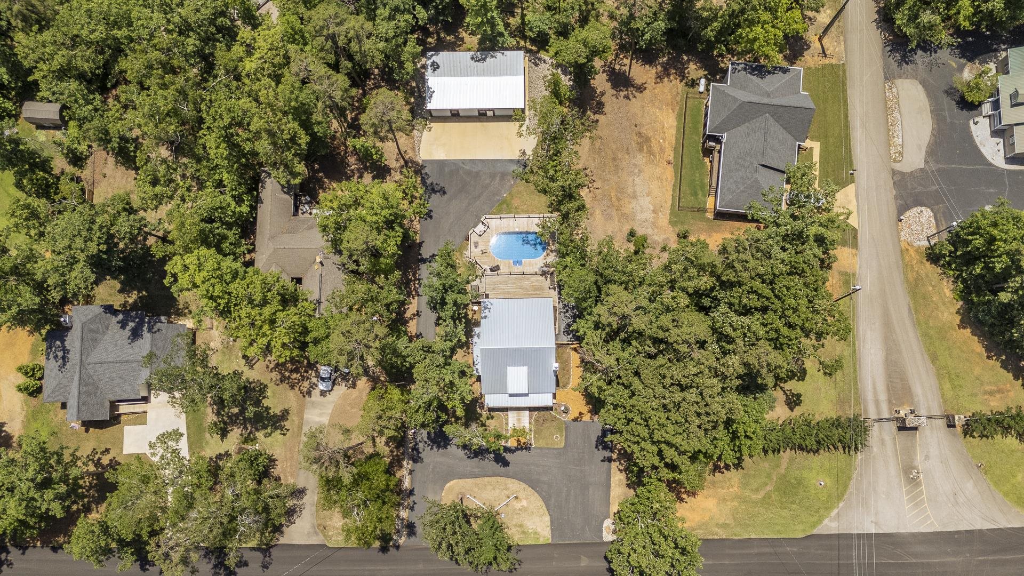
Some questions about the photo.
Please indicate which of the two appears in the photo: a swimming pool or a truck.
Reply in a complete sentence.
The image shows a swimming pool.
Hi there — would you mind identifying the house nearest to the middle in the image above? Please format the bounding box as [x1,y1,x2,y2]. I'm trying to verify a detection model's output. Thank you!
[473,297,559,408]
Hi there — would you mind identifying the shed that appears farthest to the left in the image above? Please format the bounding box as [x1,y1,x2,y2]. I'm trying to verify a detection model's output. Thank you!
[23,107,71,130]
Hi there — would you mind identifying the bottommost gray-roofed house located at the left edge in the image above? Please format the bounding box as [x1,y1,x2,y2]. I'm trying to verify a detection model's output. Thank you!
[43,305,191,421]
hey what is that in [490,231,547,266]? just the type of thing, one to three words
swimming pool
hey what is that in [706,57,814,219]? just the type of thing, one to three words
house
